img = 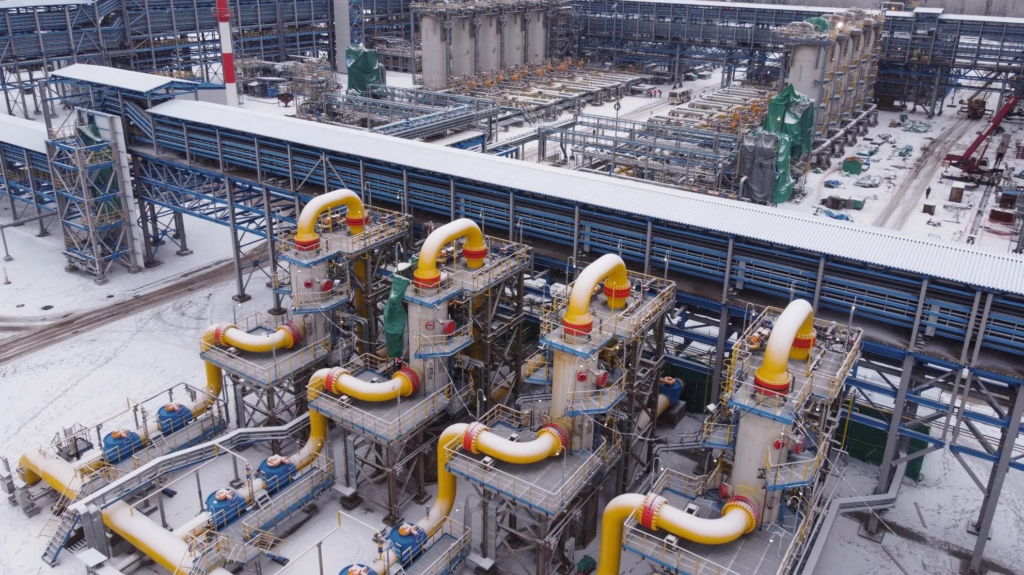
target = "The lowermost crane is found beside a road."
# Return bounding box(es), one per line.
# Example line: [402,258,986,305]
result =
[938,95,1024,190]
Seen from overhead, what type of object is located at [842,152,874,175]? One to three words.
shed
